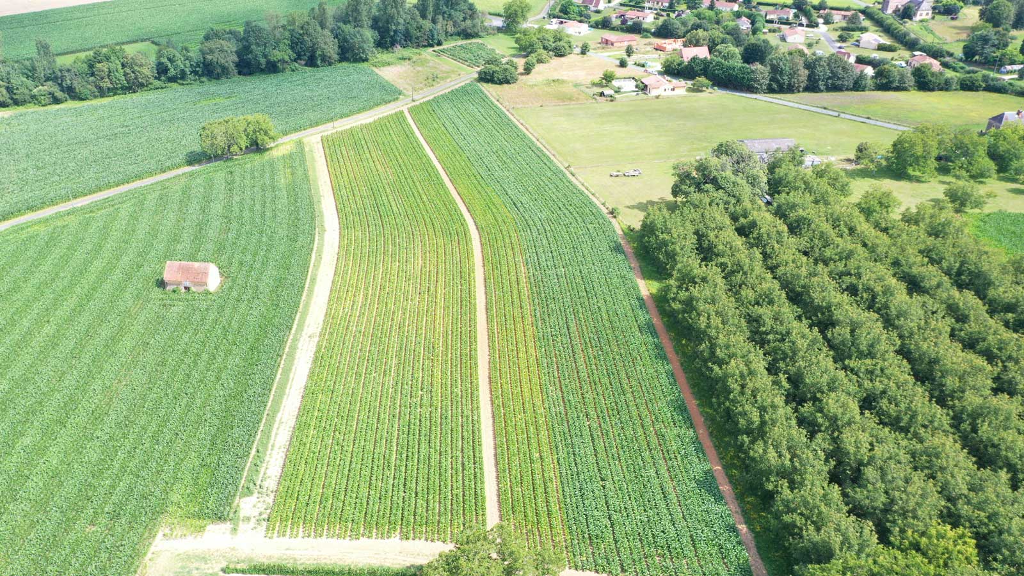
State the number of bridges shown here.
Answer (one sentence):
There are no bridges in the image.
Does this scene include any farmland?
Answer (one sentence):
Yes, farmland shows up in the scene.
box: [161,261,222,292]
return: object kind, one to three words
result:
barn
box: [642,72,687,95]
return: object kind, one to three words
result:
house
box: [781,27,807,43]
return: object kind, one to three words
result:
house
